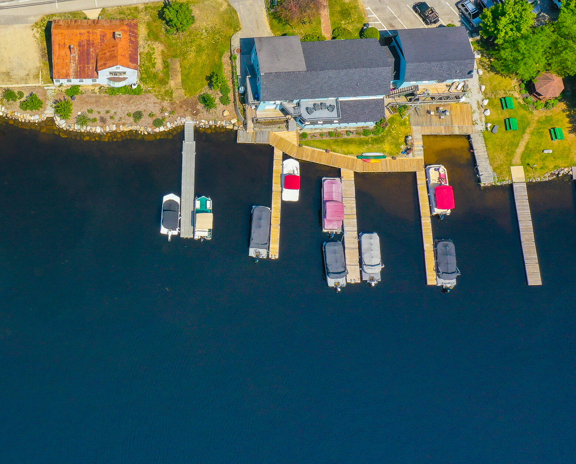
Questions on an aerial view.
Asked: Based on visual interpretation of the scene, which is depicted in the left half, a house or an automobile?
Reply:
house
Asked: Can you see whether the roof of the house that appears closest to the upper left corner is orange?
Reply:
Yes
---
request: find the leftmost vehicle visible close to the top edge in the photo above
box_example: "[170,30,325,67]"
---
[409,0,437,25]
